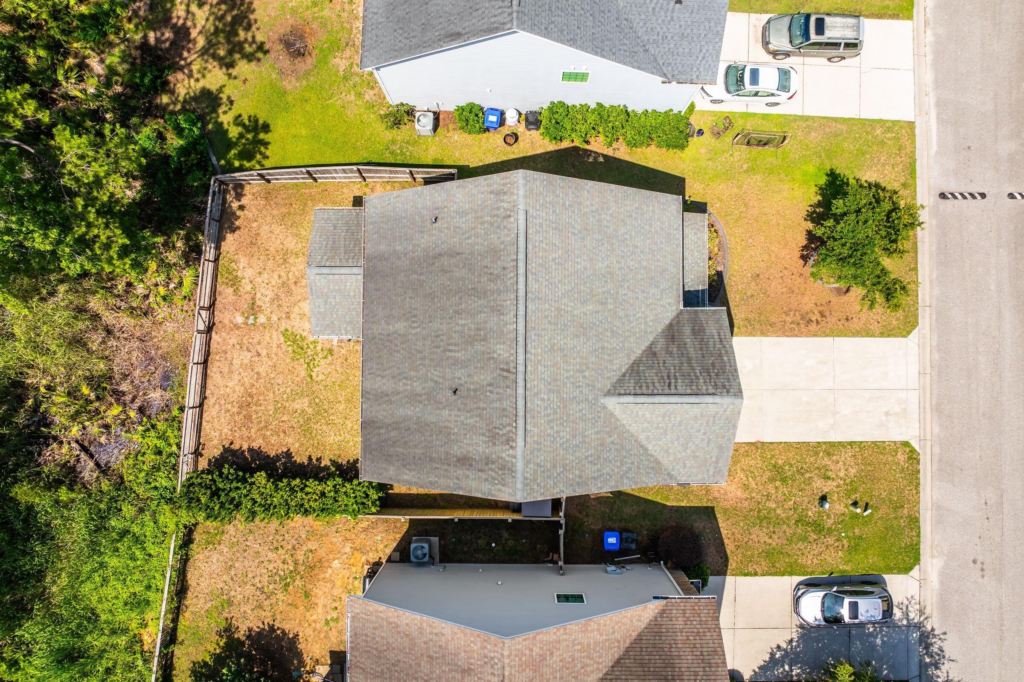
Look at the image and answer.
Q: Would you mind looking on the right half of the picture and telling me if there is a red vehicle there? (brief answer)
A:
No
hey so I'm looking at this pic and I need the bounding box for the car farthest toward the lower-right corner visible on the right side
[793,580,899,637]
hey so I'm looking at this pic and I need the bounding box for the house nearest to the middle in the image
[308,169,743,503]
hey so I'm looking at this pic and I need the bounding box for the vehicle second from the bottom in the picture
[699,52,799,106]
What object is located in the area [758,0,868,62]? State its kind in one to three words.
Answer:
car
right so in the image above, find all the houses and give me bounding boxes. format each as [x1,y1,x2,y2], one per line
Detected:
[344,555,730,682]
[358,0,732,117]
[308,169,743,503]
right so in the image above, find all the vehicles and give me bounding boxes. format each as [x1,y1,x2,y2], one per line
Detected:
[699,52,799,106]
[793,580,899,637]
[758,0,868,62]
